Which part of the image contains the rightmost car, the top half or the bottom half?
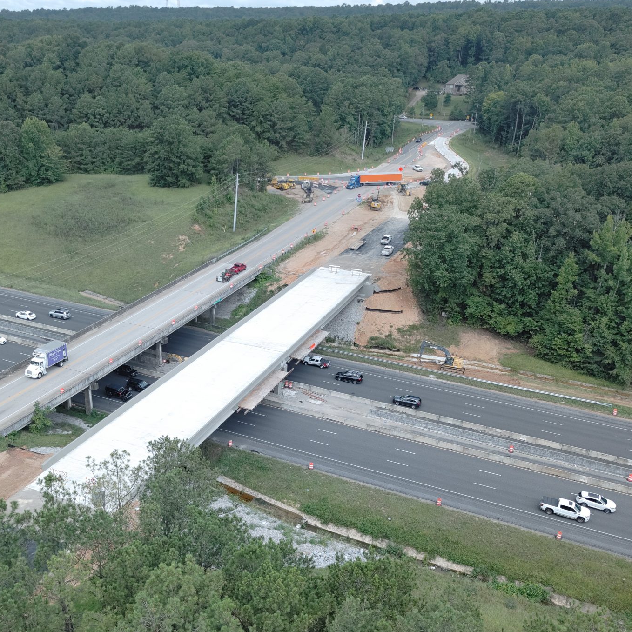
bottom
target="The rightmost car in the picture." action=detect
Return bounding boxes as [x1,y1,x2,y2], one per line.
[577,489,618,513]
